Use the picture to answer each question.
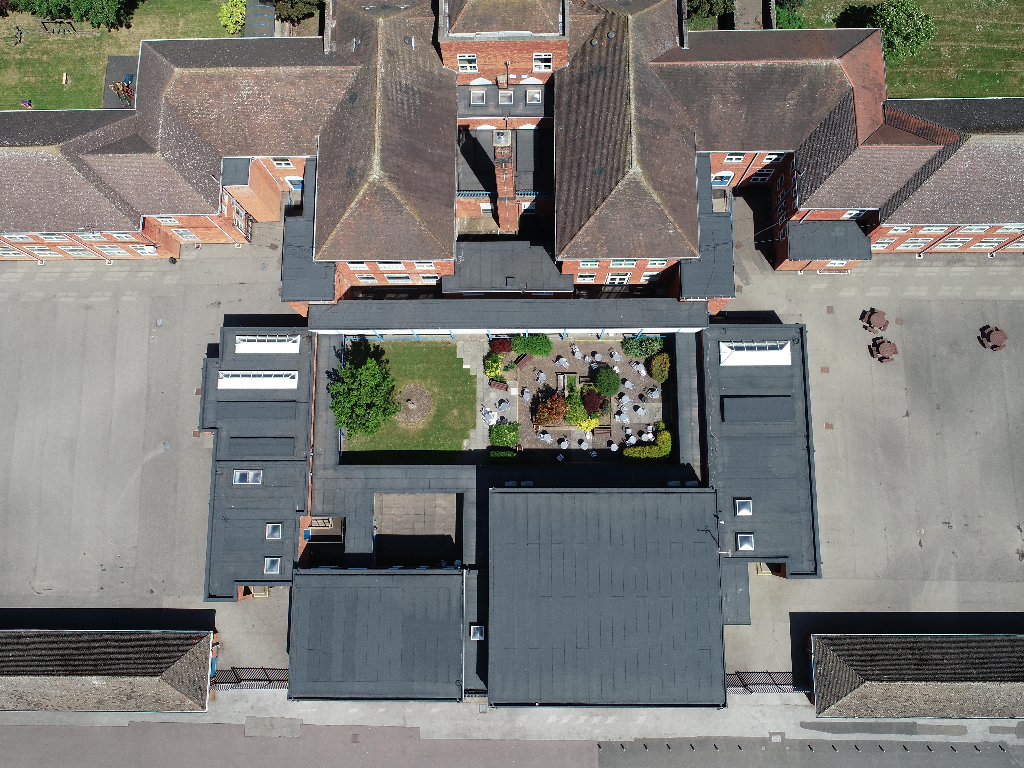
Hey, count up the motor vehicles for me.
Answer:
0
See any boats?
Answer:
No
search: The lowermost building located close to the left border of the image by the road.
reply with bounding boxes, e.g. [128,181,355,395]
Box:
[0,629,223,715]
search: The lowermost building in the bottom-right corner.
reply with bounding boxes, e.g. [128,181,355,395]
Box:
[803,632,1024,720]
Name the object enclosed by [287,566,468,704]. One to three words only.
building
